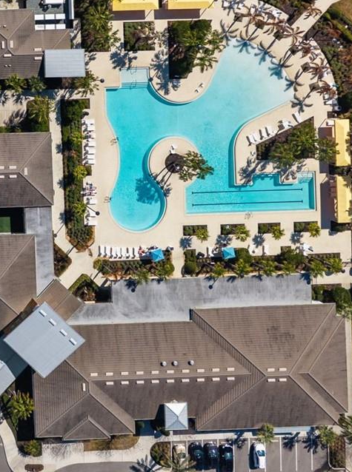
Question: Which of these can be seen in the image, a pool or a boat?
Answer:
pool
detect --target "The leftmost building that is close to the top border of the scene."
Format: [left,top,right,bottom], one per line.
[0,9,85,80]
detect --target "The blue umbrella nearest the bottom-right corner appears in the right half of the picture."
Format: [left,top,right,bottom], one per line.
[221,245,236,259]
